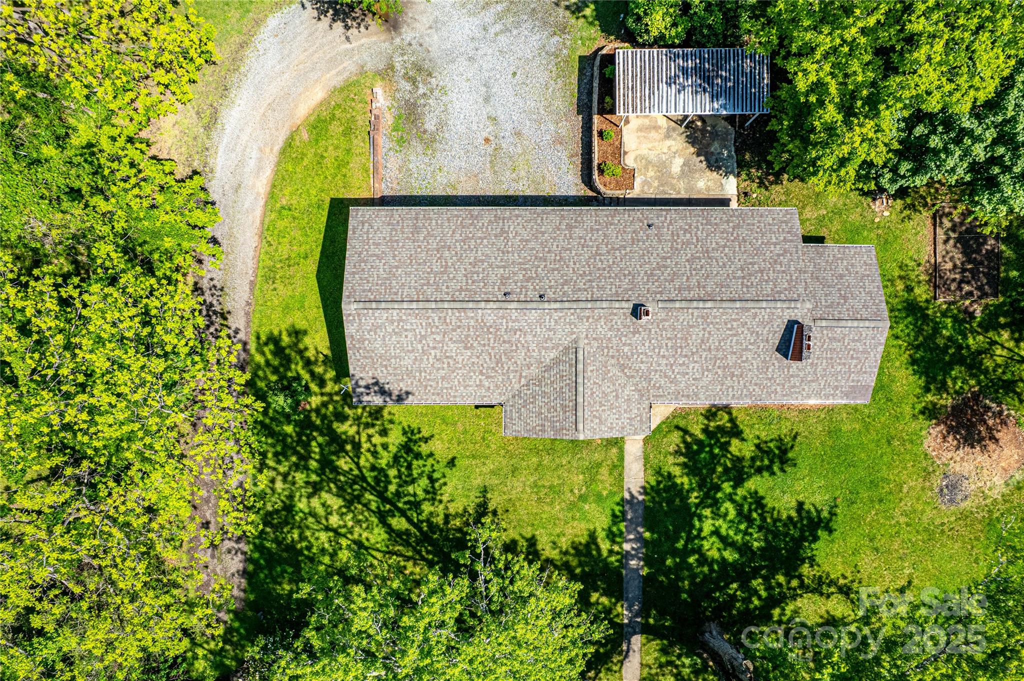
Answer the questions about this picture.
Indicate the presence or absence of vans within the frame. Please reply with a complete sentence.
No, the frame has no van in it.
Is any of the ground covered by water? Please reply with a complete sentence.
No, there's no water in this view.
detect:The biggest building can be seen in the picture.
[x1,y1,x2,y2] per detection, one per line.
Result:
[343,205,889,440]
